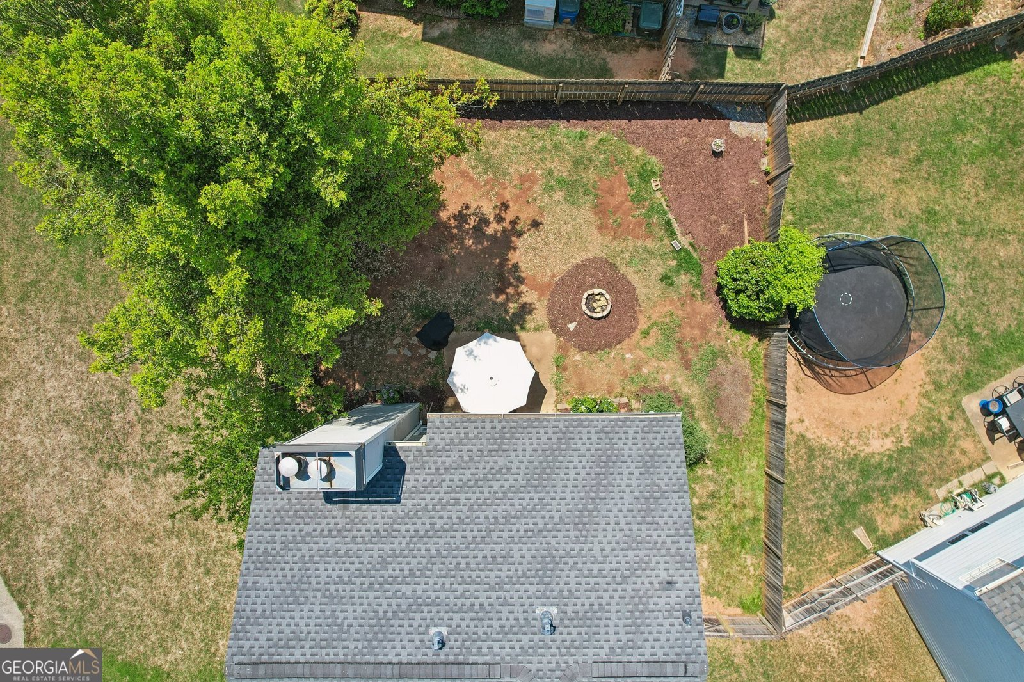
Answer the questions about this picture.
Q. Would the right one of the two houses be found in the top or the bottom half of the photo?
bottom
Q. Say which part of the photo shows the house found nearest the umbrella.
bottom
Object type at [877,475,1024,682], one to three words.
house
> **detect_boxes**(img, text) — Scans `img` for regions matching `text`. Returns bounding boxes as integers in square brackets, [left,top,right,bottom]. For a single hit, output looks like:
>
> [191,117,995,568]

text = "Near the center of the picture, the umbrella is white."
[446,332,537,409]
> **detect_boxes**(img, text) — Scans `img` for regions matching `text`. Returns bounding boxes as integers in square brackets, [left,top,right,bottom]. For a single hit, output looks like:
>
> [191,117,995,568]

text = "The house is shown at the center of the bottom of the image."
[226,406,707,682]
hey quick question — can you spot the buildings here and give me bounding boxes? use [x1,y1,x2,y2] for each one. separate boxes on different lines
[226,406,707,682]
[877,475,1024,682]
